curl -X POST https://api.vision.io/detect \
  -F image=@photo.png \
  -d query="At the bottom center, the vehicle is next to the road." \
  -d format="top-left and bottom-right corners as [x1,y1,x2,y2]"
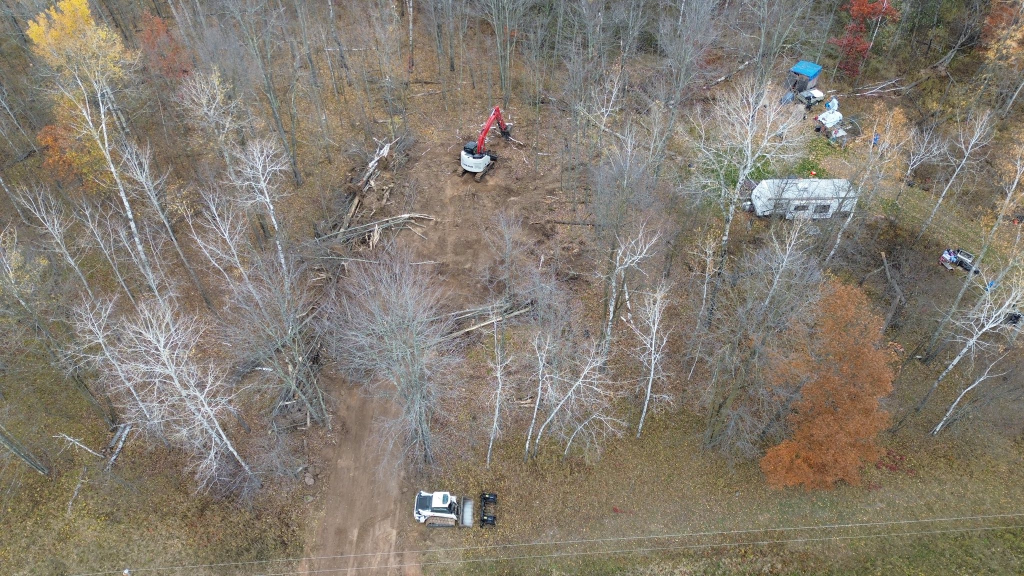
[409,486,476,529]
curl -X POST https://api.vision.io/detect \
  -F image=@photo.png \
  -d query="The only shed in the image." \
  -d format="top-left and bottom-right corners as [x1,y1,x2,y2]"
[792,59,827,93]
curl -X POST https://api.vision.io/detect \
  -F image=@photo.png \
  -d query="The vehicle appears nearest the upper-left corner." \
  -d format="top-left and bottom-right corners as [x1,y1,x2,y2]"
[452,103,514,184]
